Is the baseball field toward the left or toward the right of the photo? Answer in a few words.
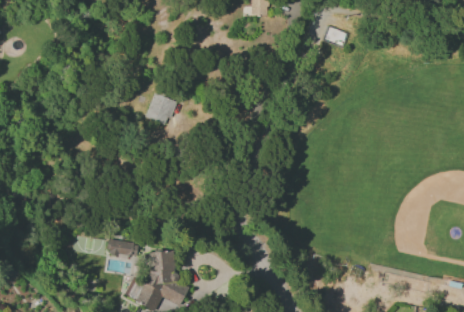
right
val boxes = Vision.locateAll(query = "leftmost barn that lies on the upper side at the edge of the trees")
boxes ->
[146,94,176,124]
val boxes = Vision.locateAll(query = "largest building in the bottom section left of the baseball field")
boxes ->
[125,250,190,312]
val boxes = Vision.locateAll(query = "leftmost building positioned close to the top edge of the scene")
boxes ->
[243,0,268,16]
